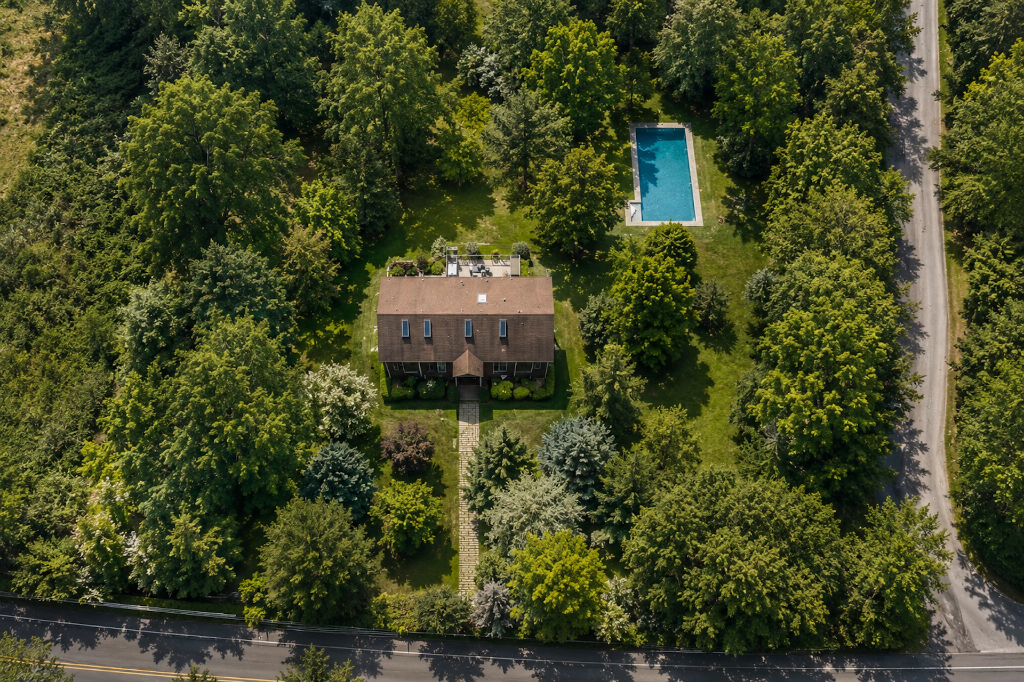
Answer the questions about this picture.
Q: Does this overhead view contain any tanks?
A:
No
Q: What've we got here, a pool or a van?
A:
pool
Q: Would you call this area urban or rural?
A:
rural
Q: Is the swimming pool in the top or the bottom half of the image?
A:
top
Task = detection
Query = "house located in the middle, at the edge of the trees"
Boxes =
[377,270,554,388]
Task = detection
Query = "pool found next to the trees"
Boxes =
[623,122,703,226]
